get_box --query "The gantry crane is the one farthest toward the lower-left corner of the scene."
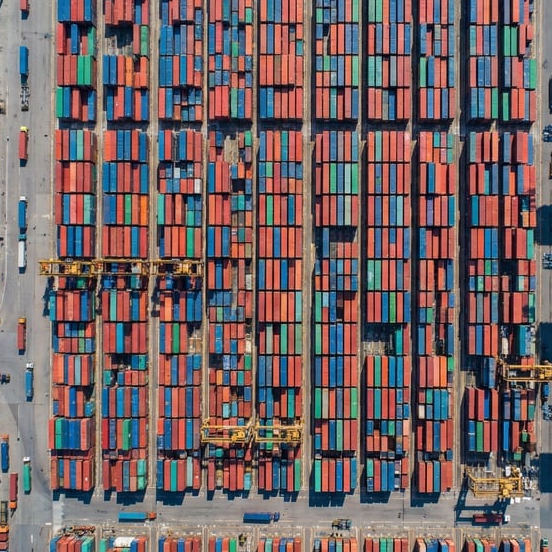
[201,415,253,443]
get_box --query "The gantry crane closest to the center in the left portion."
[149,257,209,279]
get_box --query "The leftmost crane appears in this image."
[39,257,102,279]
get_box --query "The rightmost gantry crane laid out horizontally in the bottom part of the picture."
[496,358,552,383]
